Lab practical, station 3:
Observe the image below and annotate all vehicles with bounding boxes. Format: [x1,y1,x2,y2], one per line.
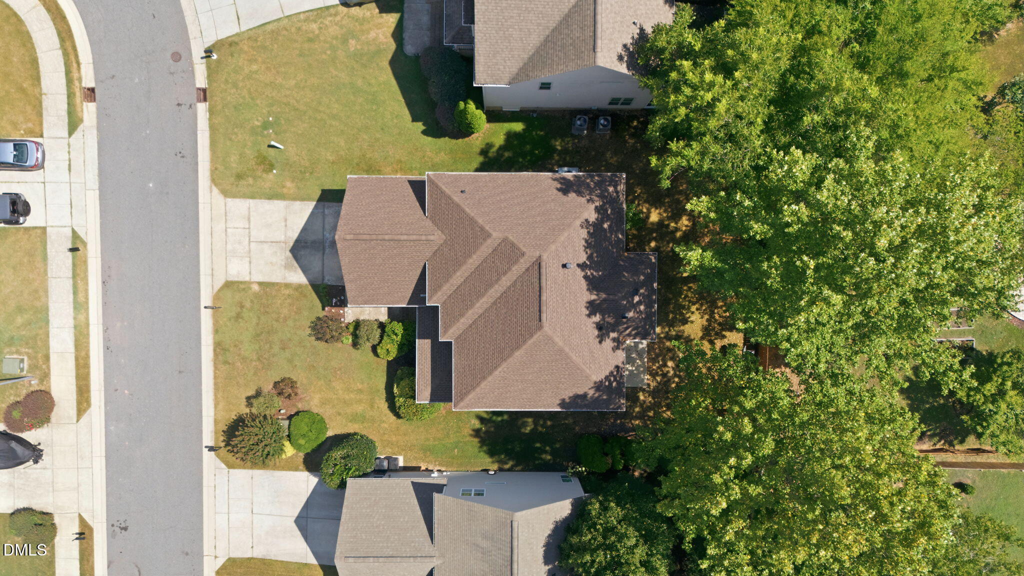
[0,140,45,171]
[348,0,372,6]
[0,194,30,224]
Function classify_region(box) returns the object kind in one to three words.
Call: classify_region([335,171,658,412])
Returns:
house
